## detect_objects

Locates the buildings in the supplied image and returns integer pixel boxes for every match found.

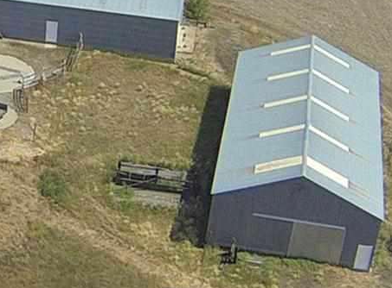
[0,0,189,63]
[205,36,384,274]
